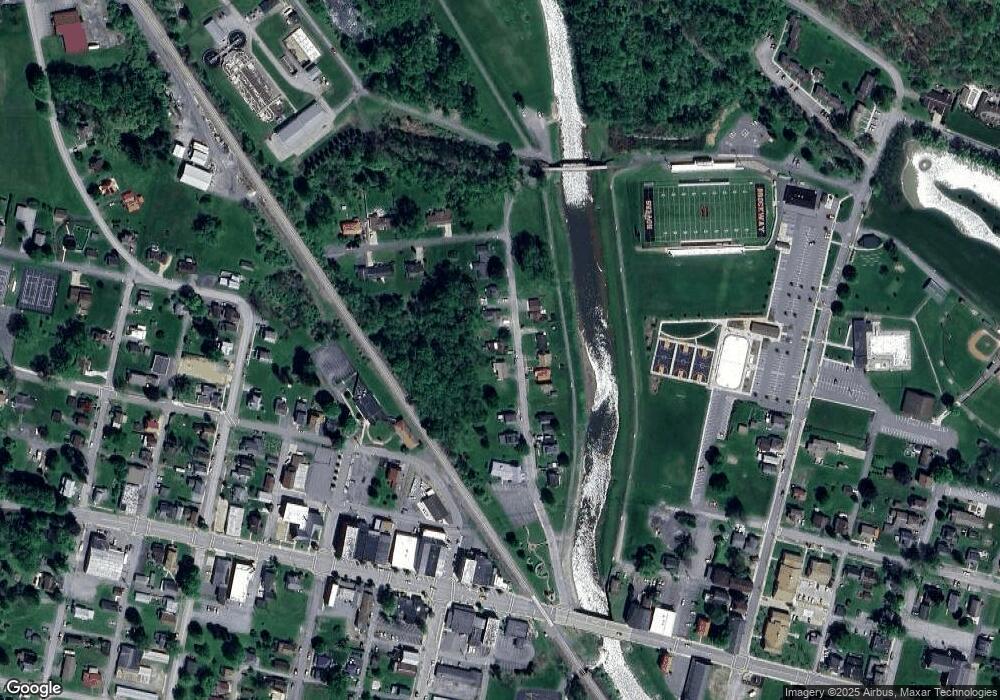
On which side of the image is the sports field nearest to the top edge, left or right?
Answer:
right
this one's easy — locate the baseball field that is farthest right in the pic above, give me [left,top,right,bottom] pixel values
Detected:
[941,301,1000,396]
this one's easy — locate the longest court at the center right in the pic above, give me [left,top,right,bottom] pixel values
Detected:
[715,333,749,389]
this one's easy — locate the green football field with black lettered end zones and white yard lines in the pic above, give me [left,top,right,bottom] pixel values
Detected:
[631,176,778,248]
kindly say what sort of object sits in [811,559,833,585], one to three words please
building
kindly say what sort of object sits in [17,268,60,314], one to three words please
tennis court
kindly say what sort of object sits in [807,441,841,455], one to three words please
house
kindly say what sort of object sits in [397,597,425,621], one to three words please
building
